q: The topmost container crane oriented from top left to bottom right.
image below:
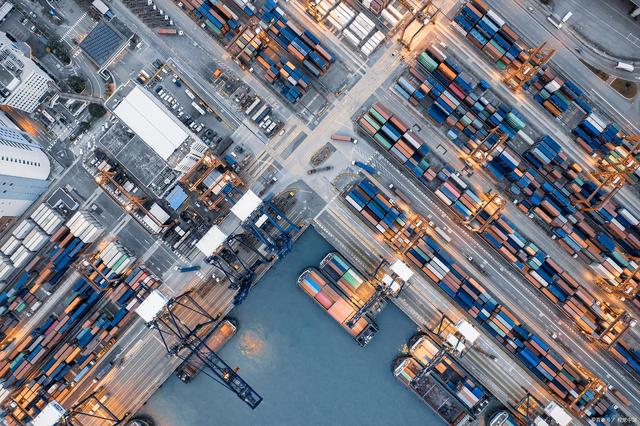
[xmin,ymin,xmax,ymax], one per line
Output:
[93,167,145,206]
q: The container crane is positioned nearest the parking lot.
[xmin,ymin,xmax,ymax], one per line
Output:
[181,155,229,198]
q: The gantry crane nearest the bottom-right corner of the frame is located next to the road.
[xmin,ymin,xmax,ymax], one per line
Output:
[551,367,611,419]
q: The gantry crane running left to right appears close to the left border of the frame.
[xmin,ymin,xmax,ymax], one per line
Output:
[32,373,139,426]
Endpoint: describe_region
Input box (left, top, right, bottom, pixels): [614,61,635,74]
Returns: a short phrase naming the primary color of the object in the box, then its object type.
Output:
white vehicle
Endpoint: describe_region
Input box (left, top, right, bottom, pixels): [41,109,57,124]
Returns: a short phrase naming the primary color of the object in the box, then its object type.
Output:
white vehicle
